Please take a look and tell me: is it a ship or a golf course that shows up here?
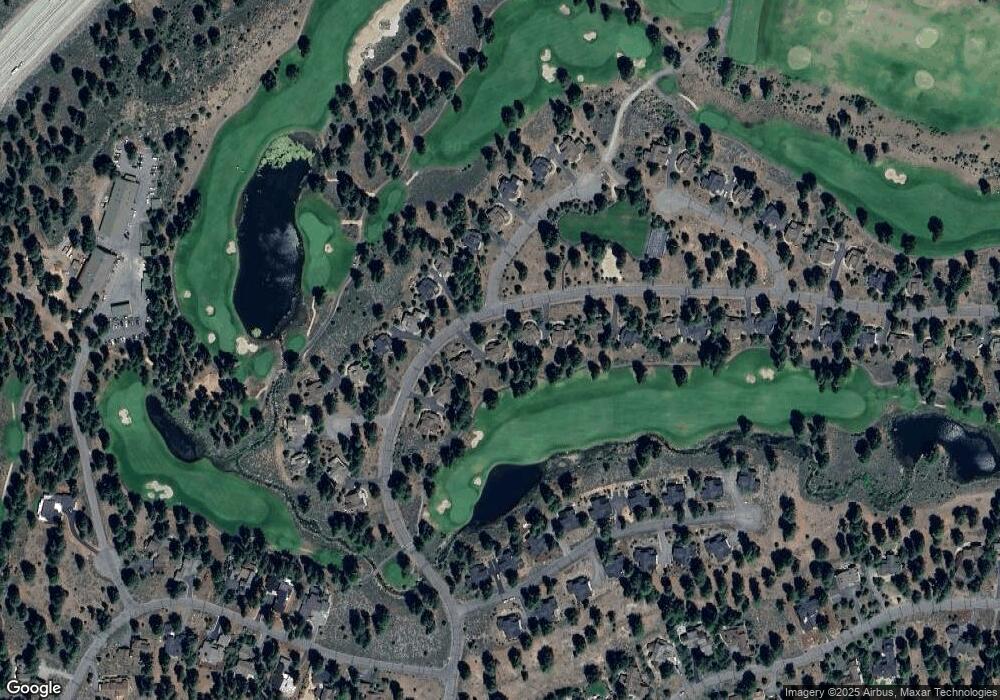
golf course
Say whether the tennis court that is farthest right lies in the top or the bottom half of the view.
top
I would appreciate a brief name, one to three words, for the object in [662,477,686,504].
house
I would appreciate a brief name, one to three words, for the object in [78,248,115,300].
shed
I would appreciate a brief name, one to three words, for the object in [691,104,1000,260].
golf course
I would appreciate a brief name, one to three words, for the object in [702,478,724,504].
house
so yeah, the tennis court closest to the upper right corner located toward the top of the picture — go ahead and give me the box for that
[647,227,668,259]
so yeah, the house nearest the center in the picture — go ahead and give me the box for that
[483,338,511,362]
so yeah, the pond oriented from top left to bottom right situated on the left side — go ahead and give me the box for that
[146,393,205,462]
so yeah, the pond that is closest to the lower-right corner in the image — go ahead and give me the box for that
[892,413,1000,483]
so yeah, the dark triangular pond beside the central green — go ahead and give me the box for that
[470,462,545,526]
